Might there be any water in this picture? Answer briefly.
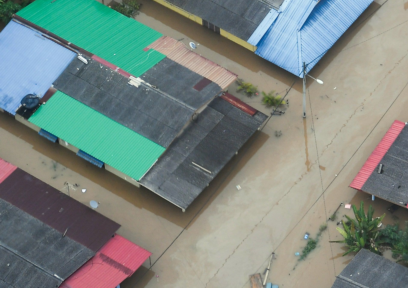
Yes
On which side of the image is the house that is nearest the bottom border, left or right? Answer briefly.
right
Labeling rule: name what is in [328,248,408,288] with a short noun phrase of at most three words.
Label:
house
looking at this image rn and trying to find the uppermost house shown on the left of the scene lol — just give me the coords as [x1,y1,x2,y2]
[0,0,268,220]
